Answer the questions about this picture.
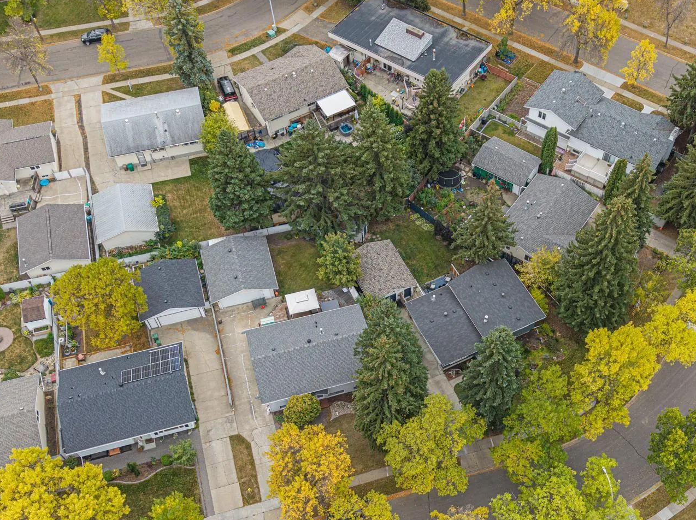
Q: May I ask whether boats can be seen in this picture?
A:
No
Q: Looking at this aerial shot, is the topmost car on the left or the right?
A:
left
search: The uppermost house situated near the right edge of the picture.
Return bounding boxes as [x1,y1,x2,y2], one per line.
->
[523,70,683,186]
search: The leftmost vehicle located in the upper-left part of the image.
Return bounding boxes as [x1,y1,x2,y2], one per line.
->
[79,23,115,46]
